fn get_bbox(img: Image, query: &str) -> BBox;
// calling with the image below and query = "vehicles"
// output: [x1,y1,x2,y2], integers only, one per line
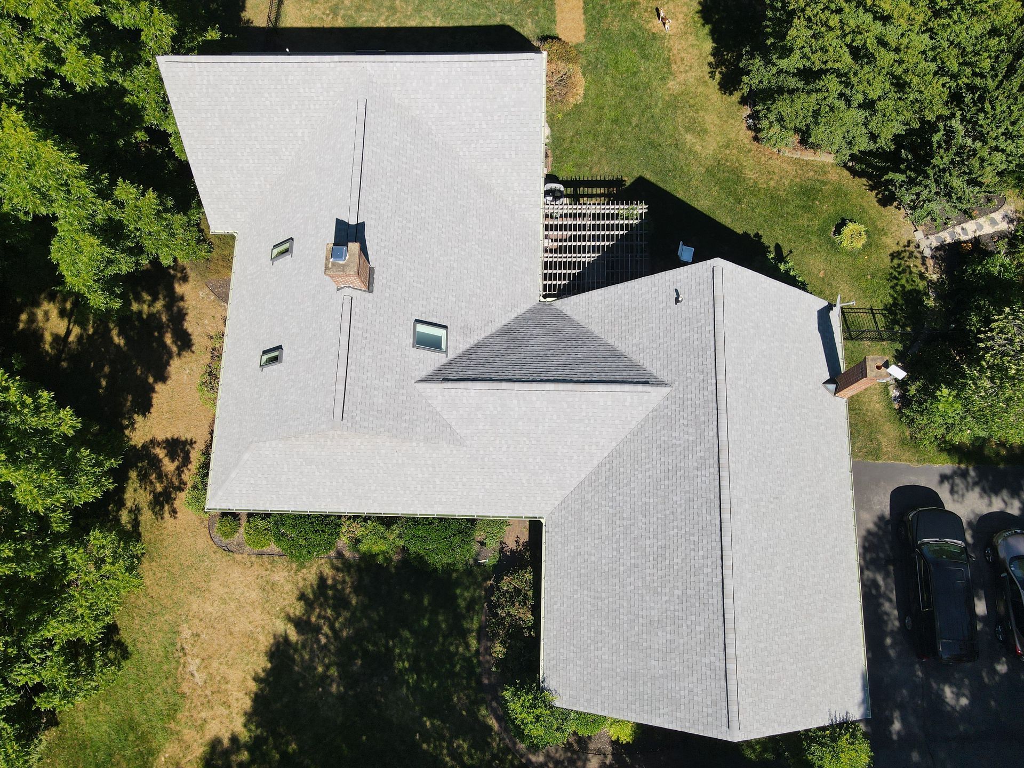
[895,498,987,664]
[983,520,1024,673]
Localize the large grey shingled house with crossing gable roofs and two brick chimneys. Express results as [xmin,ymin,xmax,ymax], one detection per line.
[156,45,891,743]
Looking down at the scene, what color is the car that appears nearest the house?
black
